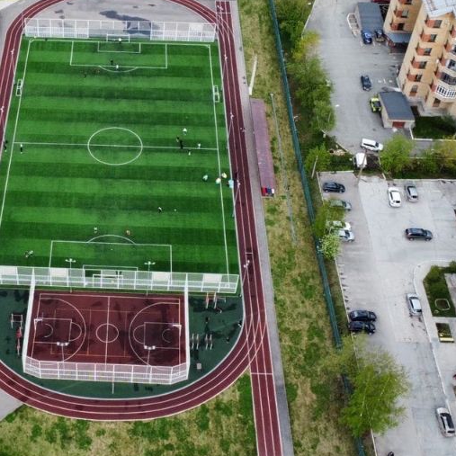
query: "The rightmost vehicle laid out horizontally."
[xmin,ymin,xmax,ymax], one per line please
[403,227,432,240]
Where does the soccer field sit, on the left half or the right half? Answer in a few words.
left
